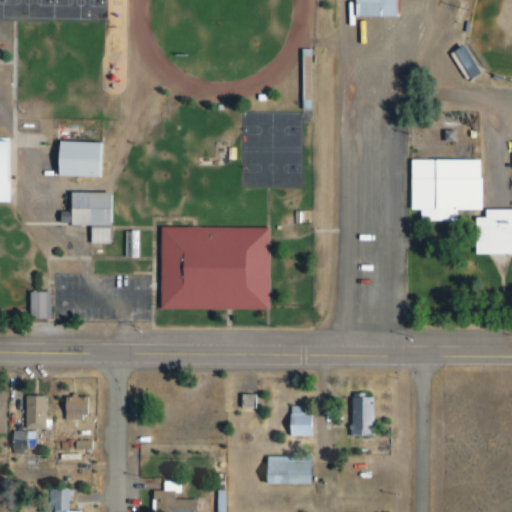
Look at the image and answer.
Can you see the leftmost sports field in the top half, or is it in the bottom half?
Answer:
top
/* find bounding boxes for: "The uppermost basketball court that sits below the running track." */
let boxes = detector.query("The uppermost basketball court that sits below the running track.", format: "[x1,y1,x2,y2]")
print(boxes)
[244,111,303,150]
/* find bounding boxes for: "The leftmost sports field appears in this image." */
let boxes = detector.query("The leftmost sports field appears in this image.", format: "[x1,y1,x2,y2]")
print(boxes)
[148,0,294,82]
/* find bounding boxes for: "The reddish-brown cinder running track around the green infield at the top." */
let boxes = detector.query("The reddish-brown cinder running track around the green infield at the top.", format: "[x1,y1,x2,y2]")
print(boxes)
[132,0,310,98]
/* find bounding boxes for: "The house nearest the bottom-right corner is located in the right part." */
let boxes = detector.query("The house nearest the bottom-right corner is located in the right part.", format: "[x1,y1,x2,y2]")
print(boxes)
[352,394,374,438]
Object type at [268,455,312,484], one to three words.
barn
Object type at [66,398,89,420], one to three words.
house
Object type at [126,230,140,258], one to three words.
greenhouse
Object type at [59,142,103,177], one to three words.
shed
